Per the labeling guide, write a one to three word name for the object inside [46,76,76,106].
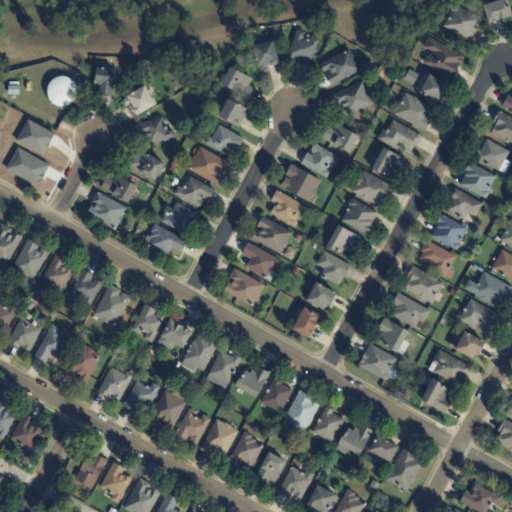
water tank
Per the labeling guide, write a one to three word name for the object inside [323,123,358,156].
house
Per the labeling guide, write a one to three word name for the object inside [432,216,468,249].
house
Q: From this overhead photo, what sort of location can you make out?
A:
residential area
